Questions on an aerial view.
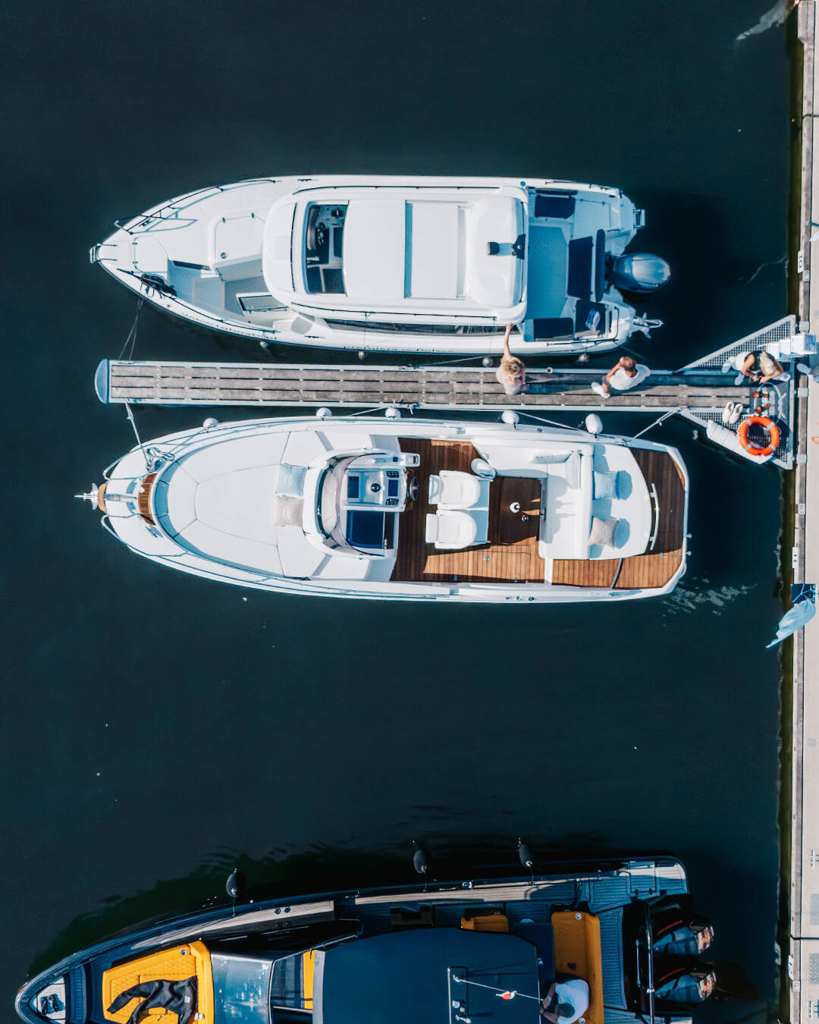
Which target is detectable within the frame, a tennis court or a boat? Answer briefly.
boat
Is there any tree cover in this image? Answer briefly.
No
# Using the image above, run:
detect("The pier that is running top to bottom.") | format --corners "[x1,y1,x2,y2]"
[776,0,819,1024]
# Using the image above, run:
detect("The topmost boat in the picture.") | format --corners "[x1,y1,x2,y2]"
[88,174,671,353]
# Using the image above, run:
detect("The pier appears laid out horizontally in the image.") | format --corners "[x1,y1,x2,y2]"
[96,315,809,469]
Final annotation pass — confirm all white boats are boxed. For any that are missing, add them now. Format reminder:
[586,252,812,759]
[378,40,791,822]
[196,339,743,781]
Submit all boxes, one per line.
[88,174,671,353]
[72,416,692,603]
